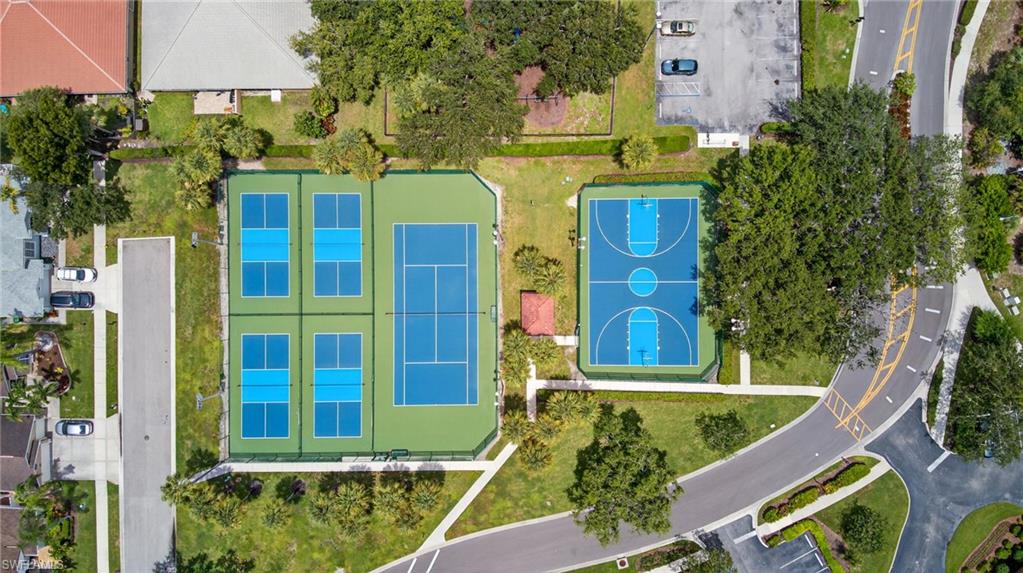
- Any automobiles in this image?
Yes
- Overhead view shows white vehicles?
Yes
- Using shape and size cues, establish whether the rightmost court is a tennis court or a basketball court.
basketball court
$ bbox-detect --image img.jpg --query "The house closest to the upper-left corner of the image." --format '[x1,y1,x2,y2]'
[0,0,134,96]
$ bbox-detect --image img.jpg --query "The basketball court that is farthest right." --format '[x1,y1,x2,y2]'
[579,186,716,376]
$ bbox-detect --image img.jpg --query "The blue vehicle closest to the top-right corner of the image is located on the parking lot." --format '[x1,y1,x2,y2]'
[661,55,699,74]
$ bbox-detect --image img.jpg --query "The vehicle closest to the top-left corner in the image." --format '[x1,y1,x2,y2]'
[57,266,97,284]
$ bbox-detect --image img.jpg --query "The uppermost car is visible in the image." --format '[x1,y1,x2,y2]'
[660,17,697,35]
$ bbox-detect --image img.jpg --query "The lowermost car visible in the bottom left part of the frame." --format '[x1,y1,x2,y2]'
[53,420,92,438]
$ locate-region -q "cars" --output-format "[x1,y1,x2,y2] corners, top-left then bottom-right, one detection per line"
[53,420,92,438]
[661,55,699,74]
[50,290,93,309]
[57,266,97,284]
[660,17,697,35]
